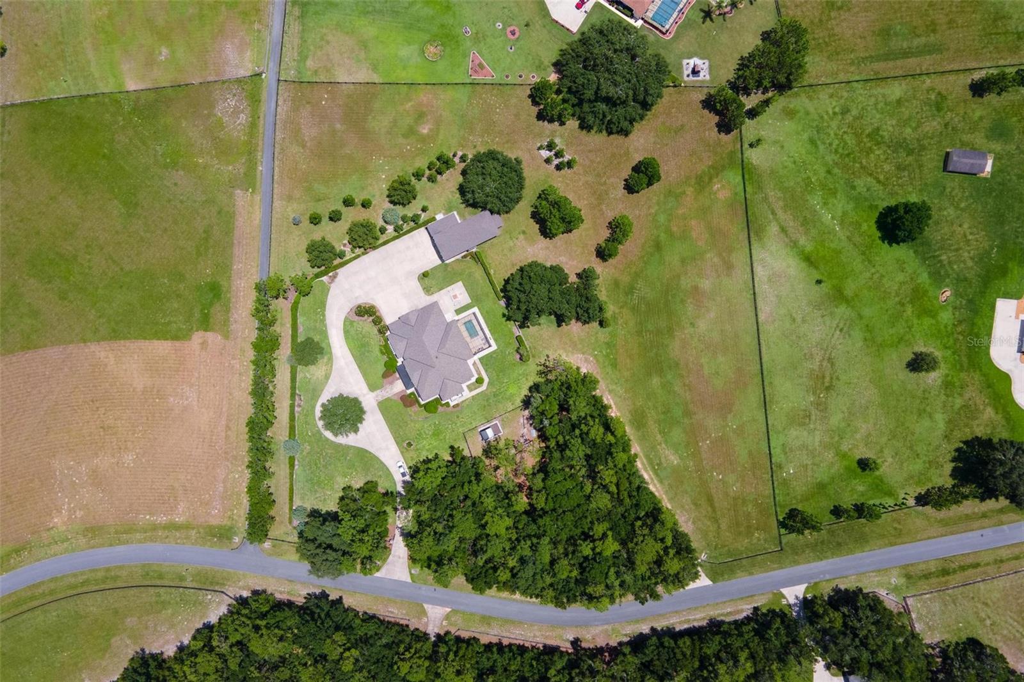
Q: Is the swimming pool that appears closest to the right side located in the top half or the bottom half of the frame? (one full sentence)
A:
You can find the swimming pool that appears closest to the right side in the top half.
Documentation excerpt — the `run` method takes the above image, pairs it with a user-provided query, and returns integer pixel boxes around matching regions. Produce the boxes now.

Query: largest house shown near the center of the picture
[387,300,475,402]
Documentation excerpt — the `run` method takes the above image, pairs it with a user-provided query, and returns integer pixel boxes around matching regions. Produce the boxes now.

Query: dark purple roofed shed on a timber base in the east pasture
[944,150,994,177]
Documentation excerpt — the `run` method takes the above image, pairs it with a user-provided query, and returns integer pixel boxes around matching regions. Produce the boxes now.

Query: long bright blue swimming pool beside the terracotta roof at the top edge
[652,0,681,23]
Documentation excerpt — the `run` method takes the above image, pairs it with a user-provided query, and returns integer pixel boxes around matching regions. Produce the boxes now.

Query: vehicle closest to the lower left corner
[395,460,409,481]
